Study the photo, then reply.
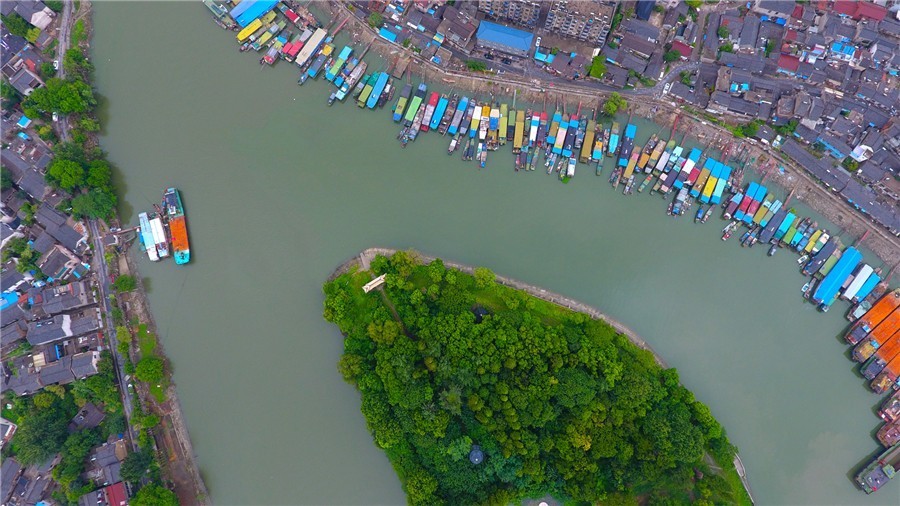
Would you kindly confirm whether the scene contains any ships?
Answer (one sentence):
Yes, looking at the shot, I can spot a ship.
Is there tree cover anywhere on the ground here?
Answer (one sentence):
Yes, the picture does contain tree cover.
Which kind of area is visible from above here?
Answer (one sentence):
The picture captures a residential area.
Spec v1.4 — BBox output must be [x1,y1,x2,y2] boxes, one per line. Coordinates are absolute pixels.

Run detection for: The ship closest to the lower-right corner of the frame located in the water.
[855,444,900,491]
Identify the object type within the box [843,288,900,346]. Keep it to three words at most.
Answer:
ship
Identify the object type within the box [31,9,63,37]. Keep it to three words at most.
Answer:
house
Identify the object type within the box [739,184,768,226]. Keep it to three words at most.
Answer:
boat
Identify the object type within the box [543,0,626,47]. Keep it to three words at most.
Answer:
building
